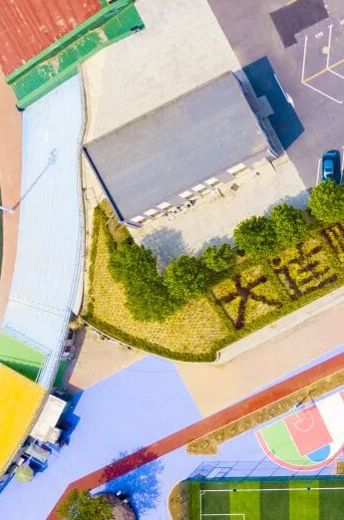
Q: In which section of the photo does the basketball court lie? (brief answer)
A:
bottom right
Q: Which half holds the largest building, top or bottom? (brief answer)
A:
top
